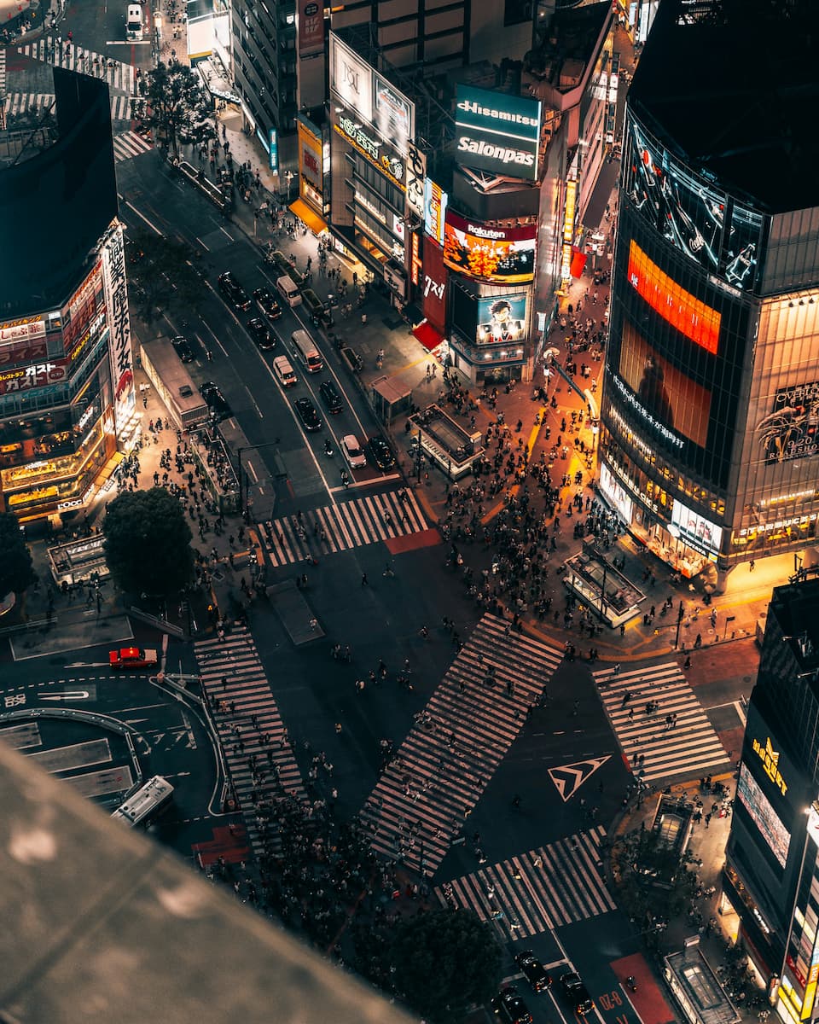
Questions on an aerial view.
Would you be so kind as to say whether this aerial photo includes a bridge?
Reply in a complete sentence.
No, there is no bridge in the image.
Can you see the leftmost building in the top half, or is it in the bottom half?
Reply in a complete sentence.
The leftmost building sits in the top half of the picture.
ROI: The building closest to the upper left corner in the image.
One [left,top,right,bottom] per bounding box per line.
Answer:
[0,100,57,145]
